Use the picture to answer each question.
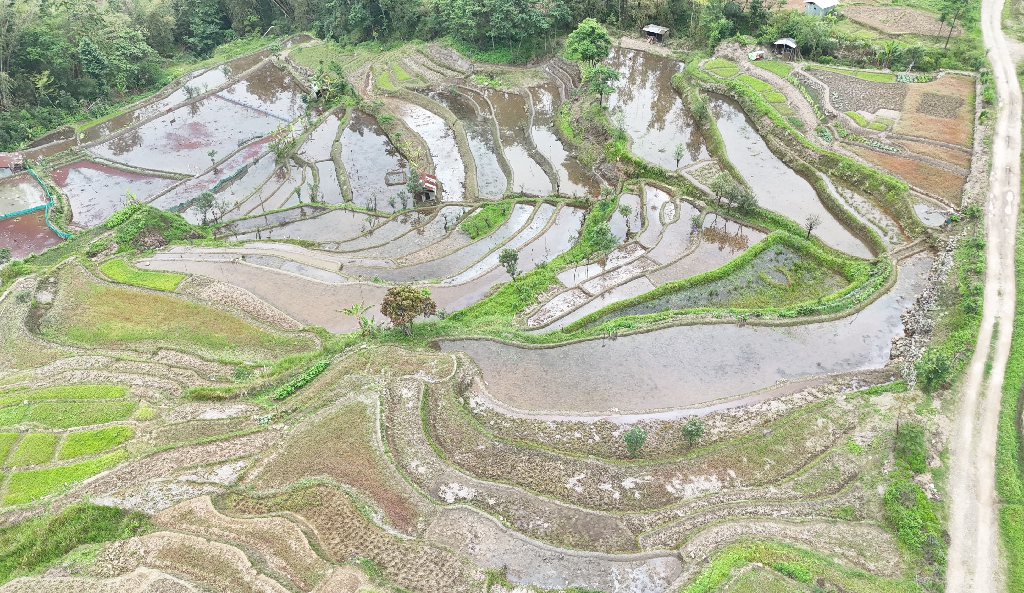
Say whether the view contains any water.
Yes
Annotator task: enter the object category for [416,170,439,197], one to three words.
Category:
shed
